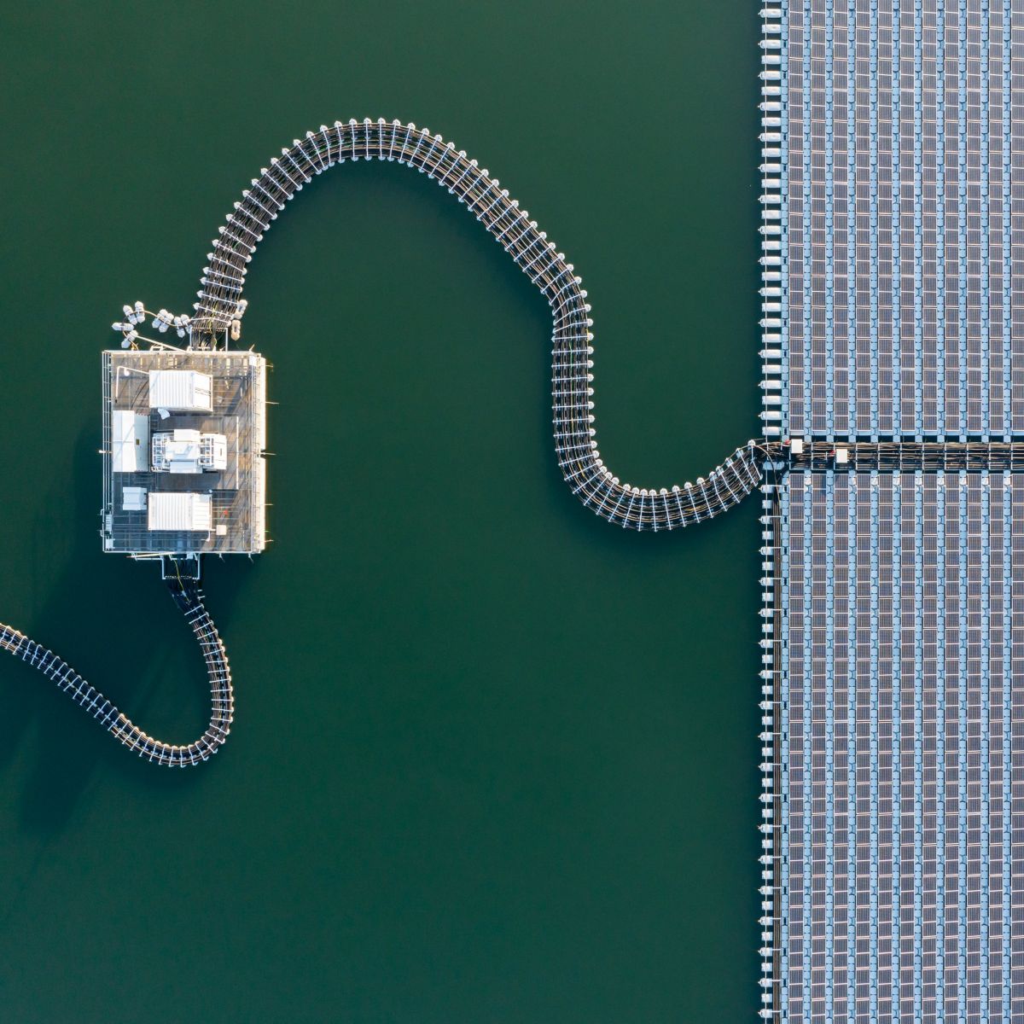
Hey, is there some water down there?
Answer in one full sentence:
Yes, there is water in the image.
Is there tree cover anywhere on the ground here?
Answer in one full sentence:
No, there is no tree cover in the image.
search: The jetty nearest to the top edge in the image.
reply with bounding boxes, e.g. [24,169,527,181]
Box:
[255,356,267,451]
